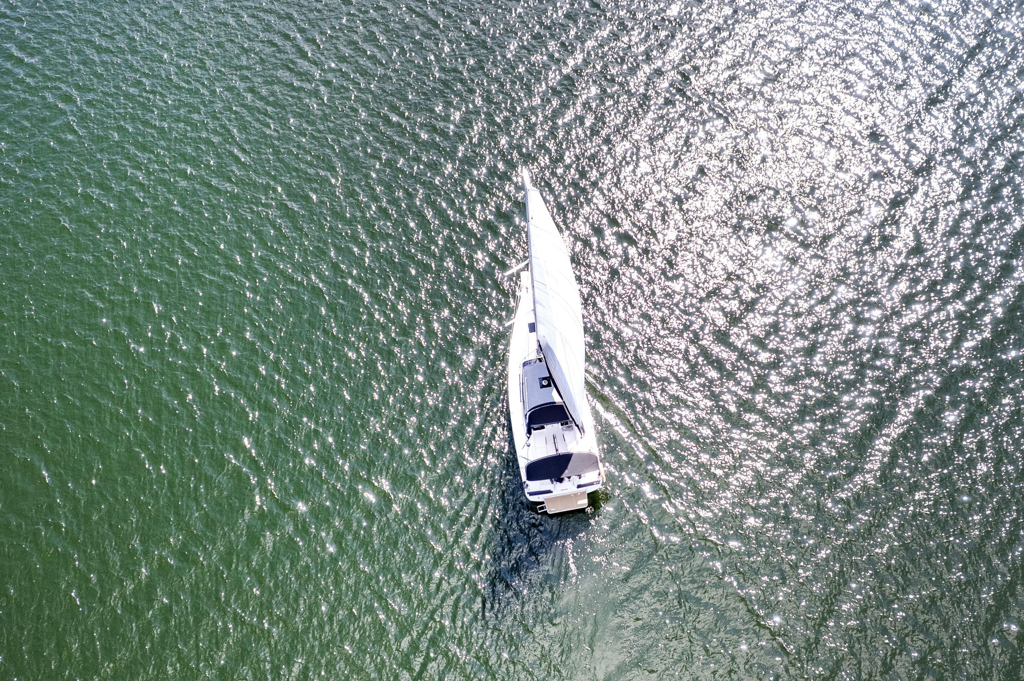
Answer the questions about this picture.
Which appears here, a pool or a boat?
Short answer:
boat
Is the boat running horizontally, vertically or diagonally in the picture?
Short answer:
vertically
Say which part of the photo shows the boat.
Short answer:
center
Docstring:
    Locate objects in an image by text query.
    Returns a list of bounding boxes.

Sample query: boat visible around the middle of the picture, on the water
[503,159,602,514]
